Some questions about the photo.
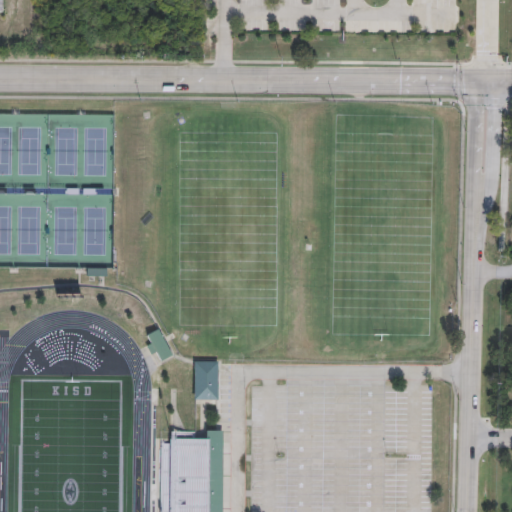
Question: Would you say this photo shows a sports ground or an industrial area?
sports ground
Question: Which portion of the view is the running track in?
bottom left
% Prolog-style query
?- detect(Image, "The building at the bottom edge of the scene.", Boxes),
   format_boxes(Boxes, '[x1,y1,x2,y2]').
[160,432,224,512]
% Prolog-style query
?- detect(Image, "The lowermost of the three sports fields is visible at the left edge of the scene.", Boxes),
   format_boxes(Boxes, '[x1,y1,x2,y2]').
[8,376,133,512]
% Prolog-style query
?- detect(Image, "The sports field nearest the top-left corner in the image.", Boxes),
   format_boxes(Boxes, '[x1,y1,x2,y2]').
[177,131,280,328]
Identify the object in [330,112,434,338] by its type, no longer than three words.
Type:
sports field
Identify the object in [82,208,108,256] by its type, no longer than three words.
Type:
tennis court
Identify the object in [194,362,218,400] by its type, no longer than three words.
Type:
building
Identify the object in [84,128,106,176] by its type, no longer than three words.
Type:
tennis court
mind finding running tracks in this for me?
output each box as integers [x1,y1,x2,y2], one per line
[0,310,152,512]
